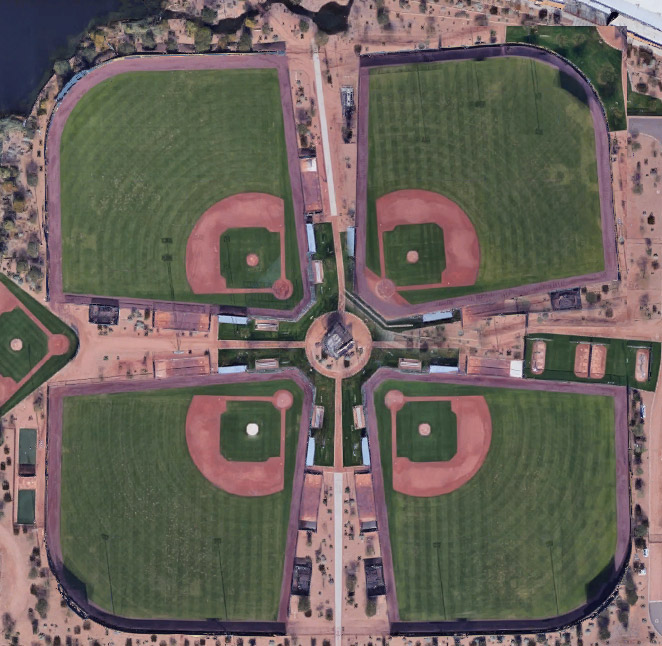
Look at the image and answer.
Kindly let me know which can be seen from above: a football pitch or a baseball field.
baseball field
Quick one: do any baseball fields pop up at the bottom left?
Yes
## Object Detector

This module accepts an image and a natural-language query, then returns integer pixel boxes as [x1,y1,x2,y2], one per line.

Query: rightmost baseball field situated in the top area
[356,43,617,319]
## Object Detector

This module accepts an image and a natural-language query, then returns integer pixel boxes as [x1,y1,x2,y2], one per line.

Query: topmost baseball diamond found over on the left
[45,54,310,317]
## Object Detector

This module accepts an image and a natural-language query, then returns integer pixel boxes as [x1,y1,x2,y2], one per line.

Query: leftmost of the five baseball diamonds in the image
[0,272,78,418]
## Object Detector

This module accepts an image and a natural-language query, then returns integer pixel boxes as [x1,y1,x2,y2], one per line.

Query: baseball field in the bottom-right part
[364,369,631,634]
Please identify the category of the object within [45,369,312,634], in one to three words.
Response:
baseball field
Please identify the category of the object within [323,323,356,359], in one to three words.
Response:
building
